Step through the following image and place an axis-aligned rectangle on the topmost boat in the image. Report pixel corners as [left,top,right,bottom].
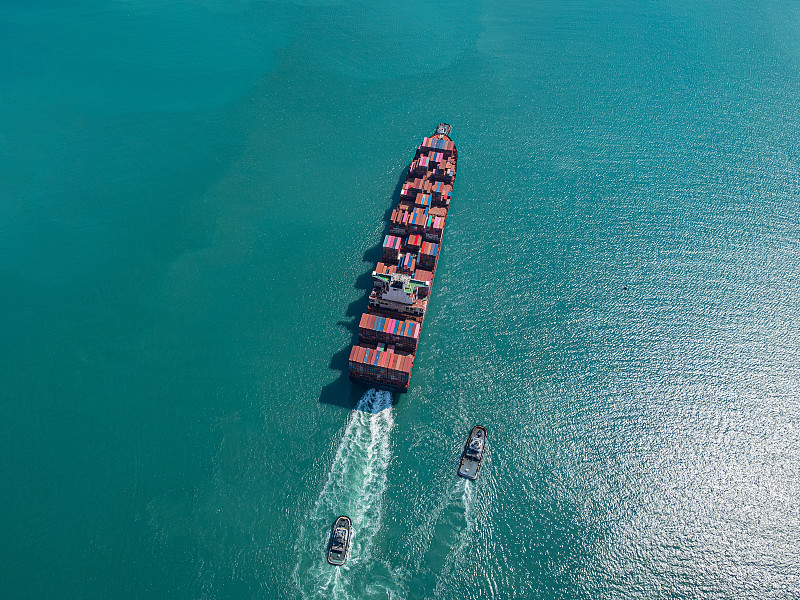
[435,123,451,137]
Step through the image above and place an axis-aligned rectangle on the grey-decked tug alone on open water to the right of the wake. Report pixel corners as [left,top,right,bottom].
[459,425,488,479]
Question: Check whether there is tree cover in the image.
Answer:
No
